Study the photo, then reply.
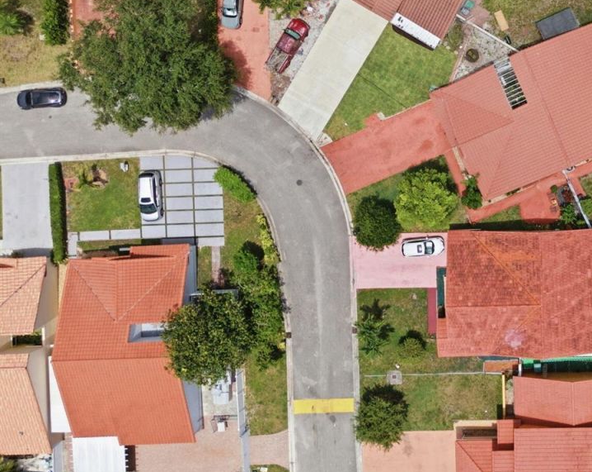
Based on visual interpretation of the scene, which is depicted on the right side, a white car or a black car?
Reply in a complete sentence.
There is a white car on the right side.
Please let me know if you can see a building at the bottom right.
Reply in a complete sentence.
Yes, I can see a building at the bottom right.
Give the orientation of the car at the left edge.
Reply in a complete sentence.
From this overhead view, the car at the left edge appears to run horizontally.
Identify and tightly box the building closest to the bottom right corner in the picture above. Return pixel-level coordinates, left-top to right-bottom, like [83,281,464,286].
[456,370,592,472]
